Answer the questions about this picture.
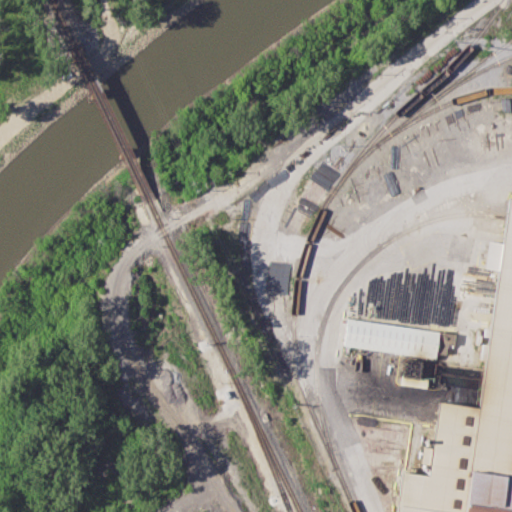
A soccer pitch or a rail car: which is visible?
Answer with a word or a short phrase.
rail car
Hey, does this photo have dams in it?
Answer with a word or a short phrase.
No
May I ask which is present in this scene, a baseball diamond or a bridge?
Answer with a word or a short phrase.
bridge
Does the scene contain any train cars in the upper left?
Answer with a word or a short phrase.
No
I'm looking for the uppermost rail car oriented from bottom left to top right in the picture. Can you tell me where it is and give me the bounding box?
[448,45,474,74]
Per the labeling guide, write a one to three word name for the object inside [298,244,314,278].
rail car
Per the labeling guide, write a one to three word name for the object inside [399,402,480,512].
building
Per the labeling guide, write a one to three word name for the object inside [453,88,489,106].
rail car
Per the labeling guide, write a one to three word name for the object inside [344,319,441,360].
shed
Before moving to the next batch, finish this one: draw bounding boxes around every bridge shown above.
[88,80,162,207]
